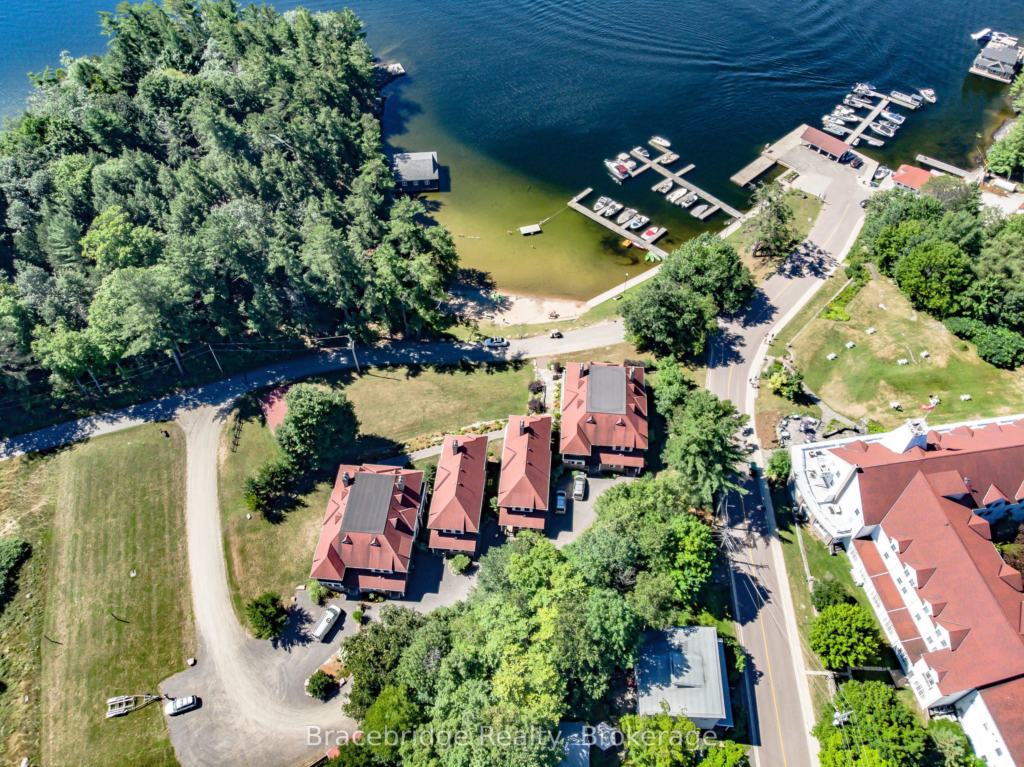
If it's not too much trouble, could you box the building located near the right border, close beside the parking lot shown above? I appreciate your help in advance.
[790,400,1024,767]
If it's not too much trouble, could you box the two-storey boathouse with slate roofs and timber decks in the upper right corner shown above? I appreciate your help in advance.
[969,38,1024,83]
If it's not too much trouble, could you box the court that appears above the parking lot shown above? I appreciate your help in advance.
[259,385,311,438]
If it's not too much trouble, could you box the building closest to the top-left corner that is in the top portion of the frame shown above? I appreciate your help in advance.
[393,152,440,193]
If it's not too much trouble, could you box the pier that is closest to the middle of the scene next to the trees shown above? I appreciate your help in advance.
[567,188,670,259]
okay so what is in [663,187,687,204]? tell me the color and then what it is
white boat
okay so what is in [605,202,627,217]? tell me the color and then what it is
white boat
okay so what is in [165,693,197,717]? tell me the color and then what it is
white car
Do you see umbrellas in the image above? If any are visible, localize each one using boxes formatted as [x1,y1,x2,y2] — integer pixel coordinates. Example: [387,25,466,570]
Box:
[804,431,818,443]
[798,418,812,431]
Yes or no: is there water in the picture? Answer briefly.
Yes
